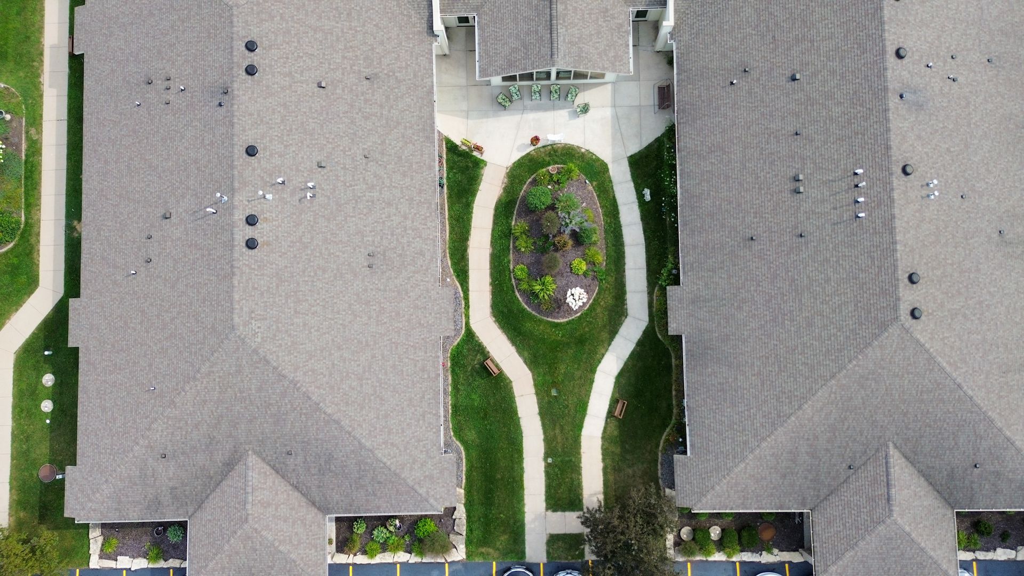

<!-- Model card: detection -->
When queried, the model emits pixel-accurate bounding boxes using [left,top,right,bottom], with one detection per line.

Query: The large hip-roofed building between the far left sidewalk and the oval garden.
[65,0,458,576]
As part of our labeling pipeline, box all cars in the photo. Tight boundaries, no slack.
[552,568,580,576]
[755,571,782,576]
[957,568,975,576]
[502,564,535,576]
